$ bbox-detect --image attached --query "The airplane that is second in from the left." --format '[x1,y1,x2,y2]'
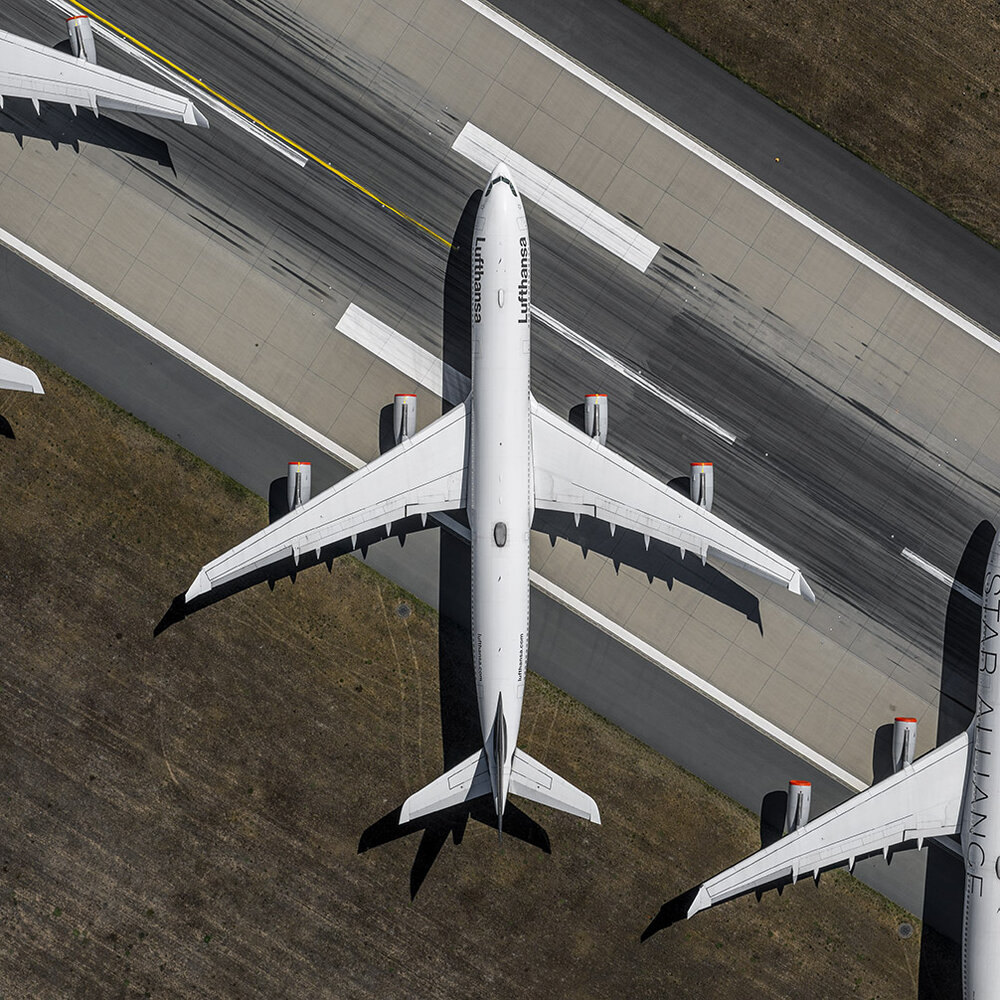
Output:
[187,162,814,841]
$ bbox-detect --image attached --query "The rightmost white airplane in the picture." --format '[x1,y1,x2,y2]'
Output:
[686,512,1000,1000]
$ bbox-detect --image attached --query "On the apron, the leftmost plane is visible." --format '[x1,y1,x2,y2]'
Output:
[0,19,209,128]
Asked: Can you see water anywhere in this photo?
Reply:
No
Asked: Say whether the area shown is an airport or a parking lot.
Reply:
airport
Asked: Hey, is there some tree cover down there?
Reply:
No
